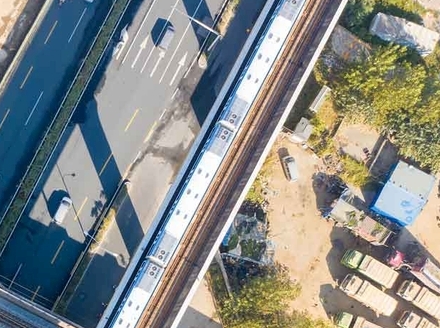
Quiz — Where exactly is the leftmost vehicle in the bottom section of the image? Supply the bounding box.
[50,192,74,226]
